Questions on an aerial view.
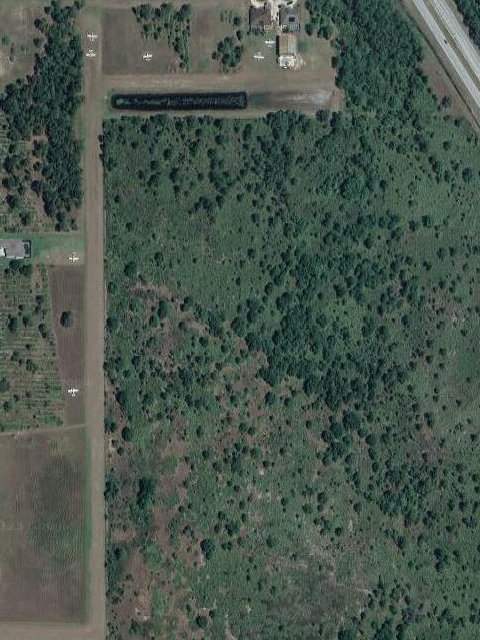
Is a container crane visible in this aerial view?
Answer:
No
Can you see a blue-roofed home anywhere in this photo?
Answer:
No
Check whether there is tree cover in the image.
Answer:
Yes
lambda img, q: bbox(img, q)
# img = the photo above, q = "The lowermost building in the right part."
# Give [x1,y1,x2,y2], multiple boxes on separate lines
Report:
[280,33,299,56]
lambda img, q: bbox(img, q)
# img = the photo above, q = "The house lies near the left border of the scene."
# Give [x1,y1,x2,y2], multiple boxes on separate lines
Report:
[0,239,24,256]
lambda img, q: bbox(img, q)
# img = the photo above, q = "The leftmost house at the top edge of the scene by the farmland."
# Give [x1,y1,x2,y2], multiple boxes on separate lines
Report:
[251,3,272,26]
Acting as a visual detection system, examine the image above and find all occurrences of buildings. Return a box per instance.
[0,239,24,256]
[280,33,299,56]
[280,6,300,26]
[251,3,272,26]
